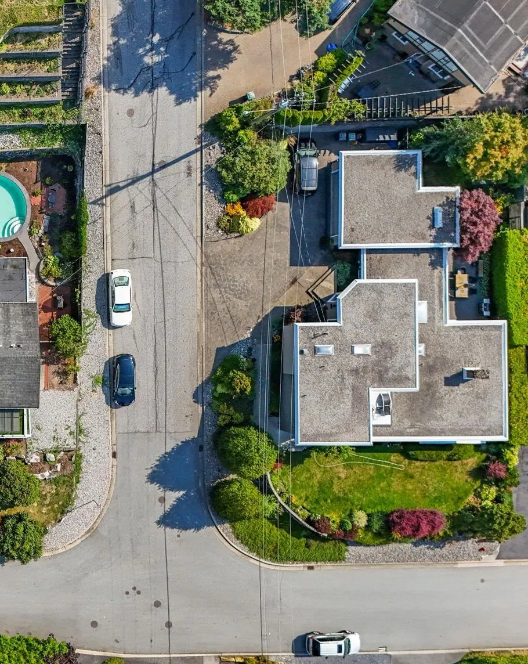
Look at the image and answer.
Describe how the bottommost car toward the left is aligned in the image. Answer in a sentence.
The bottommost car toward the left has been laid out up and down relative to the frame.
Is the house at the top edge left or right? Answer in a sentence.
The house at the top edge appears in the right half of the scene.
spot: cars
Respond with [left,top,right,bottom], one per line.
[110,354,137,407]
[304,627,361,657]
[312,0,361,38]
[108,268,135,329]
[289,138,321,199]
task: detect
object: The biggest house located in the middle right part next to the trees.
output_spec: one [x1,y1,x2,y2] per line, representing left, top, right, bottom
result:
[272,151,507,447]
